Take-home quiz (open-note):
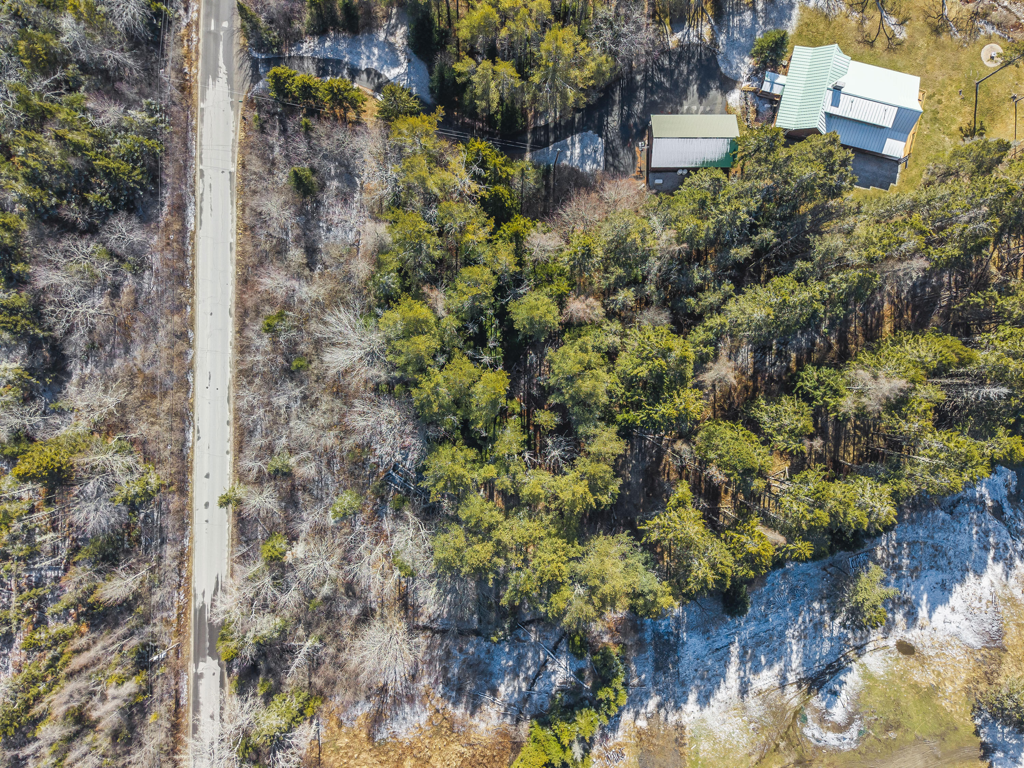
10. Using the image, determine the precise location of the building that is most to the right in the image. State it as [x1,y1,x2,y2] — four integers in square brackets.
[739,42,927,174]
